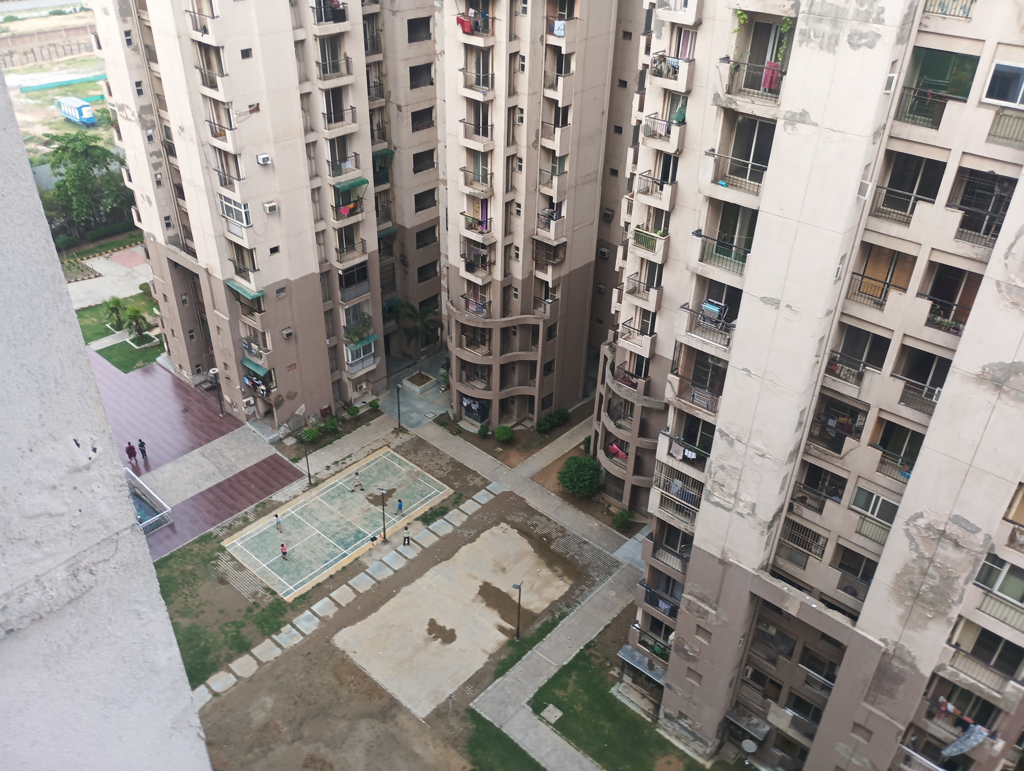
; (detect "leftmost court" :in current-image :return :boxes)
[227,449,449,596]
